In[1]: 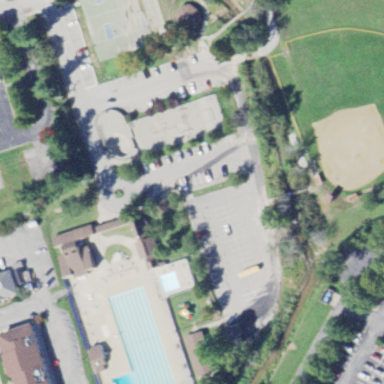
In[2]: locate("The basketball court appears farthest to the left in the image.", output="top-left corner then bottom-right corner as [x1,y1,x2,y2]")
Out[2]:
[81,0,137,64]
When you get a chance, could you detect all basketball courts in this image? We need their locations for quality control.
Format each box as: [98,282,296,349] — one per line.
[120,0,165,50]
[81,0,137,64]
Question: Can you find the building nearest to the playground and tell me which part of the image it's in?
bottom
